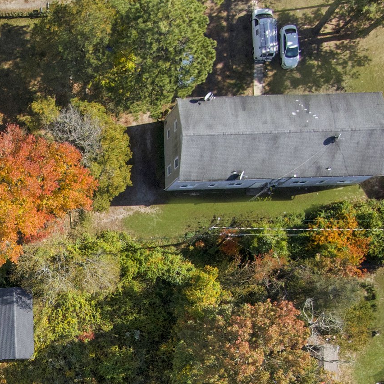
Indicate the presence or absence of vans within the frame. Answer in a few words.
Yes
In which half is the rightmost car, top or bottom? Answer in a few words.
top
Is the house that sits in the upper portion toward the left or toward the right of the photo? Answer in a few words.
right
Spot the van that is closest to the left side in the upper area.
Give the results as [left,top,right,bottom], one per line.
[249,9,277,64]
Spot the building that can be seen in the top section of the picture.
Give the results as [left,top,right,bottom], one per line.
[166,88,384,194]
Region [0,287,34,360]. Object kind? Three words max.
shed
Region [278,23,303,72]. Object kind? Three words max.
car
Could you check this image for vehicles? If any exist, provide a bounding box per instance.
[249,9,277,64]
[278,23,303,72]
